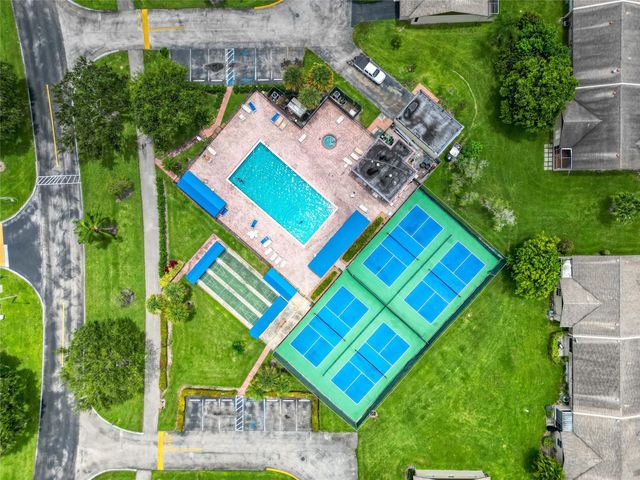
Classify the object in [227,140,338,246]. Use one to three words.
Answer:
swimming pool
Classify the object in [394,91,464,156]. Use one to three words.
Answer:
building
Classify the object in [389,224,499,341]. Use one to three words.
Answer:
sports court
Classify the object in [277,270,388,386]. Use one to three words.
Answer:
sports court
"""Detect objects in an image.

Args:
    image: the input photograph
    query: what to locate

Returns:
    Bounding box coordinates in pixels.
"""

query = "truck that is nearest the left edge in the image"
[352,53,386,85]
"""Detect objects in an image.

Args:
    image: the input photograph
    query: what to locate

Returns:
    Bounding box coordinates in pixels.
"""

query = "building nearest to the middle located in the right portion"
[352,139,417,203]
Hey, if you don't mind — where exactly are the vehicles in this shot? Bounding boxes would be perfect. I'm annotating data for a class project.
[445,144,462,161]
[352,53,386,85]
